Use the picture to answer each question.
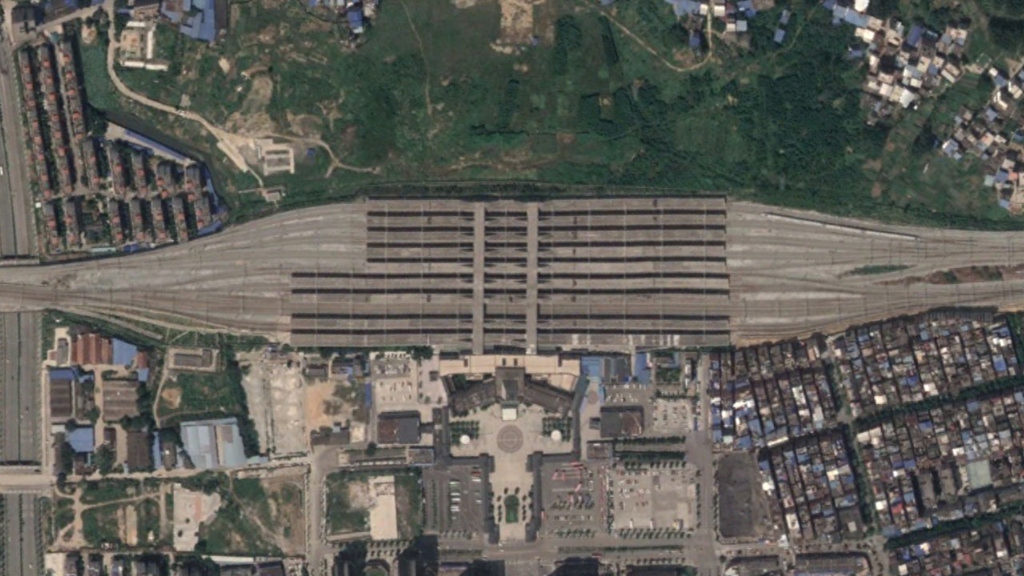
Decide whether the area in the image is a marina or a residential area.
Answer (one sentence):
The picture captures a residential area.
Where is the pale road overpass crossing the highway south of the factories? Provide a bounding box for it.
[0,466,67,492]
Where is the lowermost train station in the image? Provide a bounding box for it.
[439,355,581,420]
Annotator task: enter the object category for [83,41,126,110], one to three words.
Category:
pond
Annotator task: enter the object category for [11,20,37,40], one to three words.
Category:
house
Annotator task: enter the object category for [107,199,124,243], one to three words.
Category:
building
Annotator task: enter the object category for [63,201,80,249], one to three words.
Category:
building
